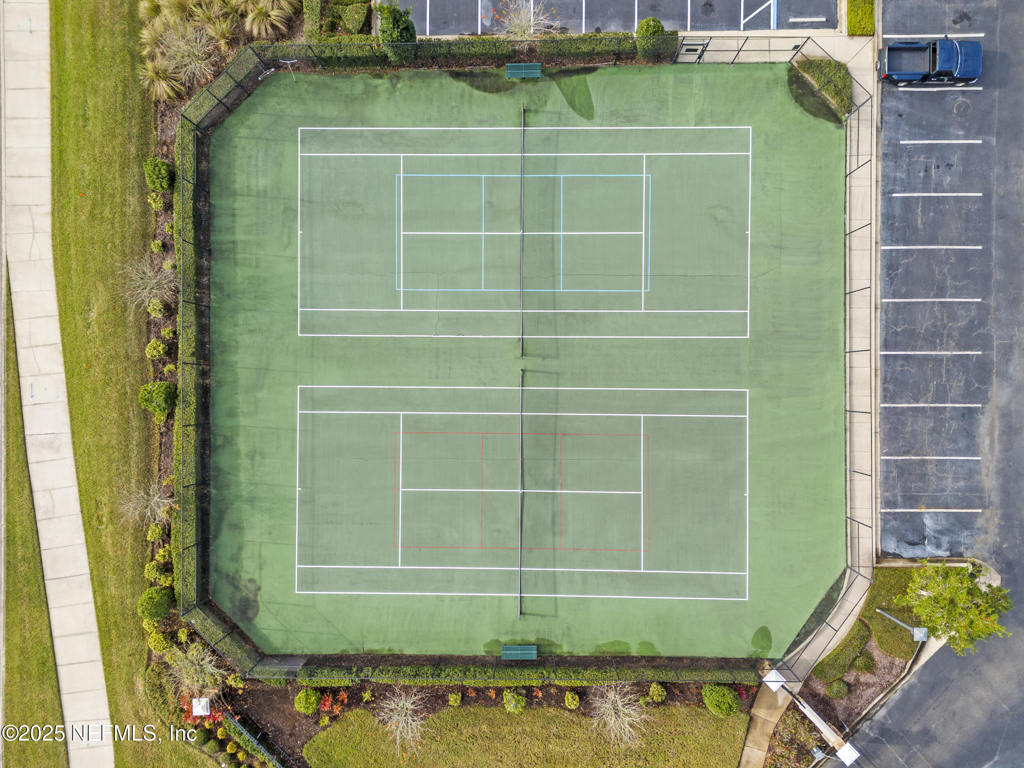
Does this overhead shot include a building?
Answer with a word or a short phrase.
No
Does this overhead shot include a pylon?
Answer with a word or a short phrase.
No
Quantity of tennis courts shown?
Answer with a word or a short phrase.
2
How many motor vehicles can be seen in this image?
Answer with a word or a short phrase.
1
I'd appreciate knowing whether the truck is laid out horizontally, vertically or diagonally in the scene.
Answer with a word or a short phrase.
horizontally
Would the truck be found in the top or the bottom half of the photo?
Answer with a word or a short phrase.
top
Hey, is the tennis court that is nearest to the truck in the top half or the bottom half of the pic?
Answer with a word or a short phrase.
top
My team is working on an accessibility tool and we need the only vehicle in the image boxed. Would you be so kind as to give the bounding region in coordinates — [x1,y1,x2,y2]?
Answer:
[875,36,982,85]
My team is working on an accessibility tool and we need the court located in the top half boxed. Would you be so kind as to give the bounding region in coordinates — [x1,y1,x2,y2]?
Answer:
[298,126,751,338]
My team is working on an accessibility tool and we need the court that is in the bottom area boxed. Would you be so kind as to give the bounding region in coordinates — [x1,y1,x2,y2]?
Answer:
[296,385,749,600]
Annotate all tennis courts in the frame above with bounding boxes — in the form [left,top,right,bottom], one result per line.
[298,126,751,338]
[296,385,749,600]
